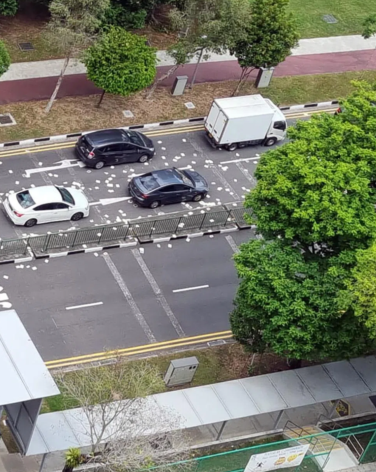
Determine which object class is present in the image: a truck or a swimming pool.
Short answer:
truck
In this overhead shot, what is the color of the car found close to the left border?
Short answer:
white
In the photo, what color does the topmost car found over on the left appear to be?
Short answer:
black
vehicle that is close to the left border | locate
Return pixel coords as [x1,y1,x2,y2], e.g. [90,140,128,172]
[4,183,94,228]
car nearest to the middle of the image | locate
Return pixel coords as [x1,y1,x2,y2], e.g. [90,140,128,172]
[128,166,214,210]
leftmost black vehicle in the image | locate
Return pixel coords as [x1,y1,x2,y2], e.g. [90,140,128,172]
[75,127,161,170]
